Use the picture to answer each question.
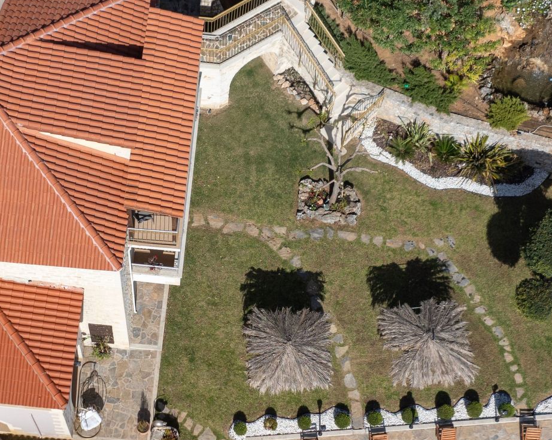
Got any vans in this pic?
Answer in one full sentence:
No, there isn't any van down there.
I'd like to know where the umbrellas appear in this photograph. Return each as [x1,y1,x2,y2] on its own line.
[369,293,478,398]
[235,301,340,398]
